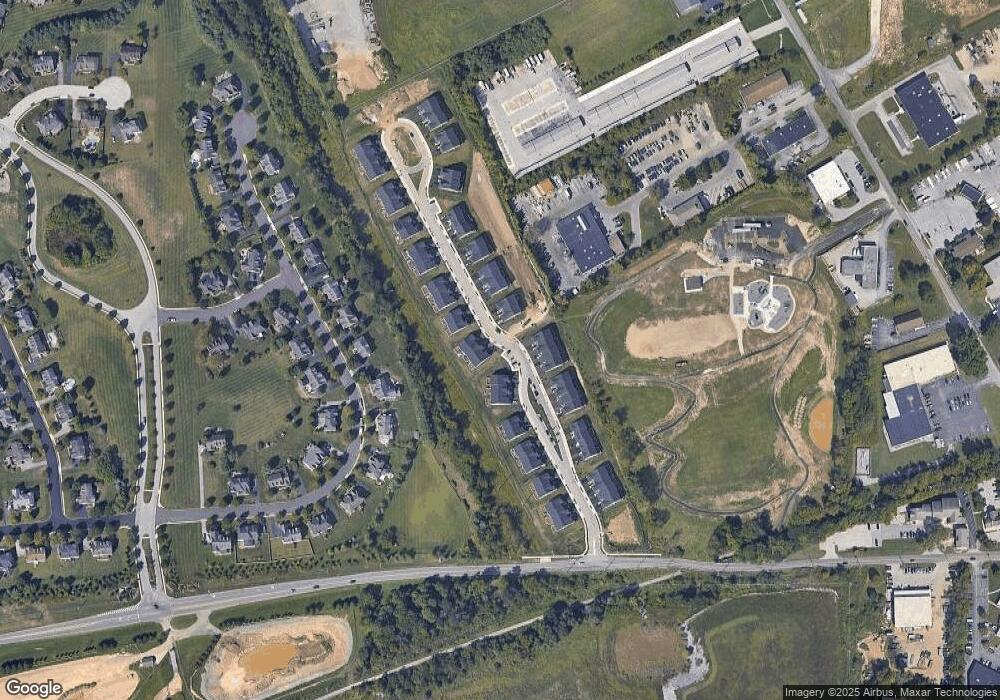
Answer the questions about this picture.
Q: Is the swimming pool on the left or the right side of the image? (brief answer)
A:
left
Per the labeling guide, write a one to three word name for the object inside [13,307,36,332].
house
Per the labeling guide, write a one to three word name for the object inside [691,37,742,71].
building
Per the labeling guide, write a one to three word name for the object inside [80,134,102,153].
swimming pool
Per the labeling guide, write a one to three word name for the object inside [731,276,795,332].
playground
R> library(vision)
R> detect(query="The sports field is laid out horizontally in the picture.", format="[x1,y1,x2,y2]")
[629,315,736,357]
